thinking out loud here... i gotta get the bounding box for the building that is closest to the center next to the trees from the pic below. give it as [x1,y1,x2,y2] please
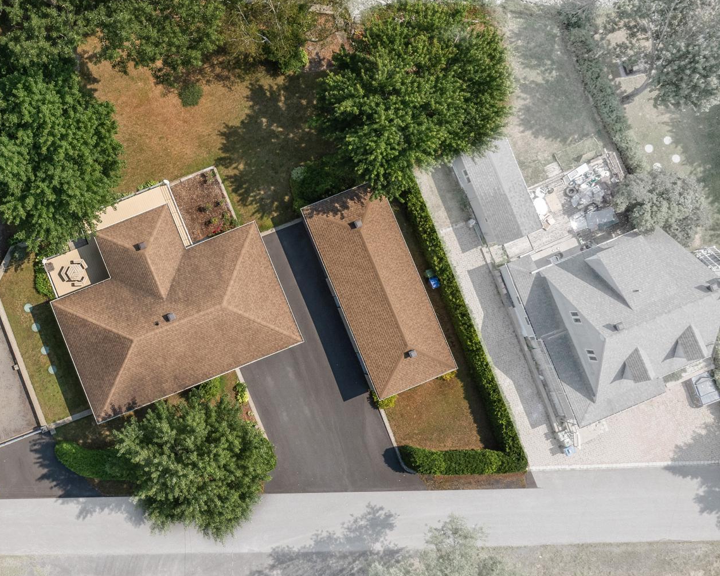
[294,181,450,401]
